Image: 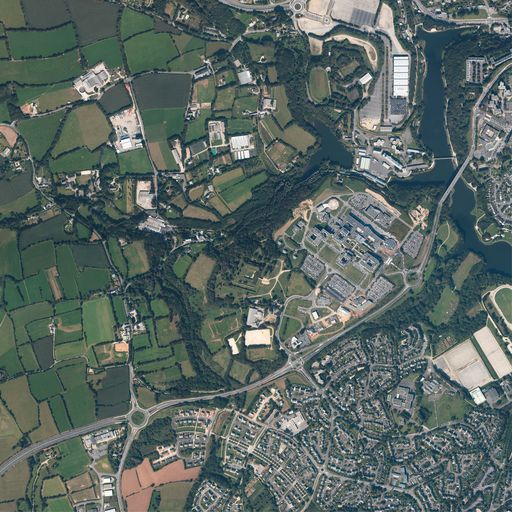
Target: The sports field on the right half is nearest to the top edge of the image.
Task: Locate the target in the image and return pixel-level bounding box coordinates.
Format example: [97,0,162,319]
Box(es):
[310,66,330,104]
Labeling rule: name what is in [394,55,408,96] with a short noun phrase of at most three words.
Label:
building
